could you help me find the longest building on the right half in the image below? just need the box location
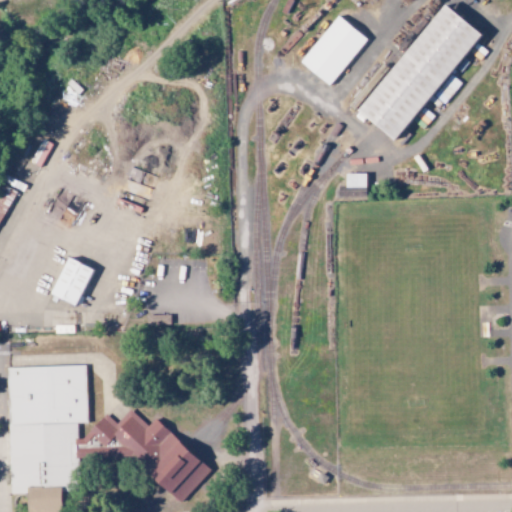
[358,4,482,140]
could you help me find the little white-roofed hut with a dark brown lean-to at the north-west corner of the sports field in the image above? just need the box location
[338,173,368,197]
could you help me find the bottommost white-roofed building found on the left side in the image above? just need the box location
[8,364,90,512]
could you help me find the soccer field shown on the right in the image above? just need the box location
[324,180,508,460]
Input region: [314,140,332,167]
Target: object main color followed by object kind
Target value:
gray rail car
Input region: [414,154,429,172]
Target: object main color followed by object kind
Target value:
white camper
